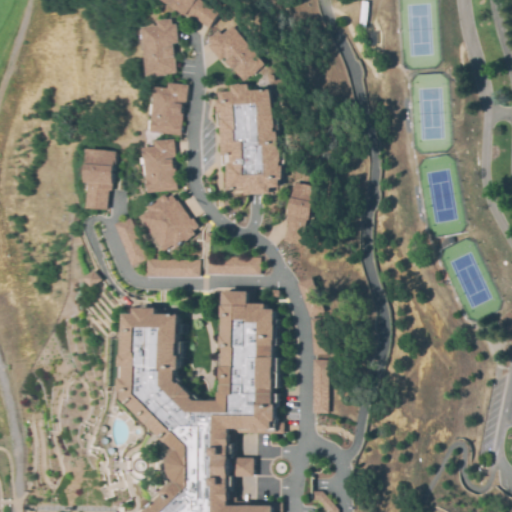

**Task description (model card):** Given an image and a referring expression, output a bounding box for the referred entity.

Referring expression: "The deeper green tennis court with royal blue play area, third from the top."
[422,154,466,236]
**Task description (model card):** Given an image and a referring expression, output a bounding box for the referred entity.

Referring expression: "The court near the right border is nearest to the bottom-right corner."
[442,238,502,320]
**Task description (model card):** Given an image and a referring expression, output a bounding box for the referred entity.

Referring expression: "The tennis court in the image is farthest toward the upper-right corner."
[402,0,442,68]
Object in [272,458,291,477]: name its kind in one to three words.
fountain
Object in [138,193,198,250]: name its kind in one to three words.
house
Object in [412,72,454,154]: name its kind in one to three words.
tennis court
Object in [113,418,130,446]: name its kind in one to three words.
swimming pool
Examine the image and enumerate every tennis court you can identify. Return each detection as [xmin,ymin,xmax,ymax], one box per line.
[412,72,454,154]
[402,0,442,68]
[422,154,466,236]
[442,238,502,320]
